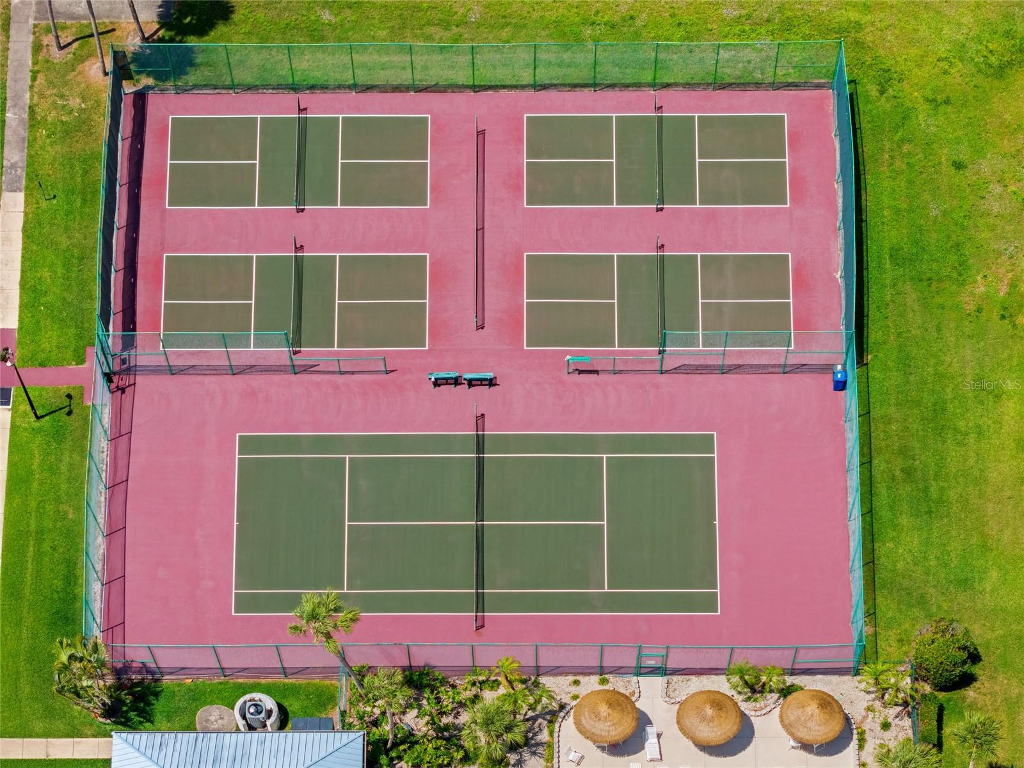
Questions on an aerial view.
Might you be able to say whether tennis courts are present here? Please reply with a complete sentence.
Yes, there's a tennis court down there.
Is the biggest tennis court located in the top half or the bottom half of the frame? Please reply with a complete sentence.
It is in the bottom half that the biggest tennis court appears.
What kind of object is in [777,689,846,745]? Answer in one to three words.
umbrella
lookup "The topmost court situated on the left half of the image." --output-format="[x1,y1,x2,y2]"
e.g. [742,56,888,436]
[166,114,430,208]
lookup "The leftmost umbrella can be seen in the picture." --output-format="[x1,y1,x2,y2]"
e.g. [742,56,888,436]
[572,688,641,744]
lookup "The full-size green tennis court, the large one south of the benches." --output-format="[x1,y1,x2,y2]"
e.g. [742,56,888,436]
[232,433,720,615]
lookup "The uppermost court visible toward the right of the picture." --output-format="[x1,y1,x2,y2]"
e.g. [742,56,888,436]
[525,113,788,207]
